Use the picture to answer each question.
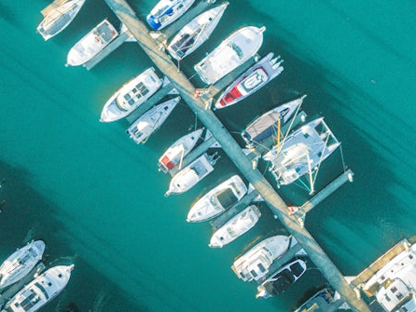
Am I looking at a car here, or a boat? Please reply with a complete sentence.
The one in the frame is a boat.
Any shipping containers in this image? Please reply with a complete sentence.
No, the photo shows no shipping container.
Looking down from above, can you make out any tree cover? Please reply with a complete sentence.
No, there's no tree cover in this view.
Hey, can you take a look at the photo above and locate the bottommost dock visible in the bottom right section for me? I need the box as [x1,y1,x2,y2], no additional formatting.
[323,283,358,312]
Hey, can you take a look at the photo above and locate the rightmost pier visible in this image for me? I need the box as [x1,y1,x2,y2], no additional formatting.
[345,236,408,291]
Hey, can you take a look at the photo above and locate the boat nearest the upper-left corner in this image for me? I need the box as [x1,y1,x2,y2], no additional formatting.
[37,0,90,39]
